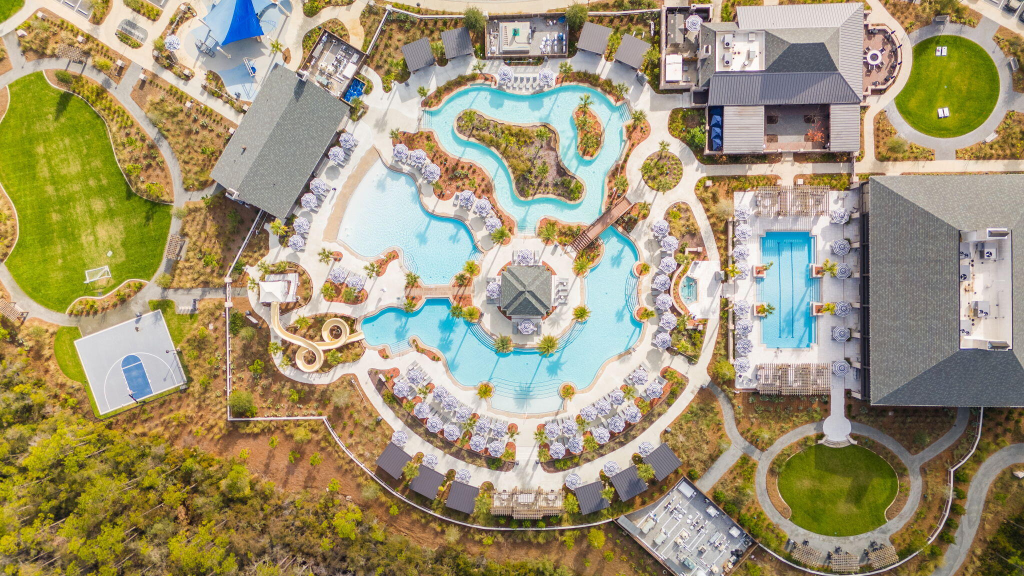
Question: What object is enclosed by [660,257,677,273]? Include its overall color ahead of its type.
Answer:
white umbrella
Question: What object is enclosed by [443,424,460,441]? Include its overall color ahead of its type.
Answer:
white umbrella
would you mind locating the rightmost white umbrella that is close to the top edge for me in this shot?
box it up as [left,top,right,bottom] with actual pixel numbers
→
[685,15,702,32]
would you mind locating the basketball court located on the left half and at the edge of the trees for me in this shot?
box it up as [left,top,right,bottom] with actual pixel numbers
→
[74,309,187,415]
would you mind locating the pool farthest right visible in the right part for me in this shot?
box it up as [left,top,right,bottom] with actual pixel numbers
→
[754,229,822,350]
